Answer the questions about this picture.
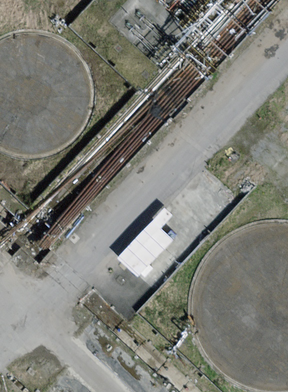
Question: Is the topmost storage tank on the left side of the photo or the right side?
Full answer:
The topmost storage tank is on the left side of the image.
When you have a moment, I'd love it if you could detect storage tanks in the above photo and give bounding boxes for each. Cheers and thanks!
[0,30,94,158]
[188,219,288,392]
